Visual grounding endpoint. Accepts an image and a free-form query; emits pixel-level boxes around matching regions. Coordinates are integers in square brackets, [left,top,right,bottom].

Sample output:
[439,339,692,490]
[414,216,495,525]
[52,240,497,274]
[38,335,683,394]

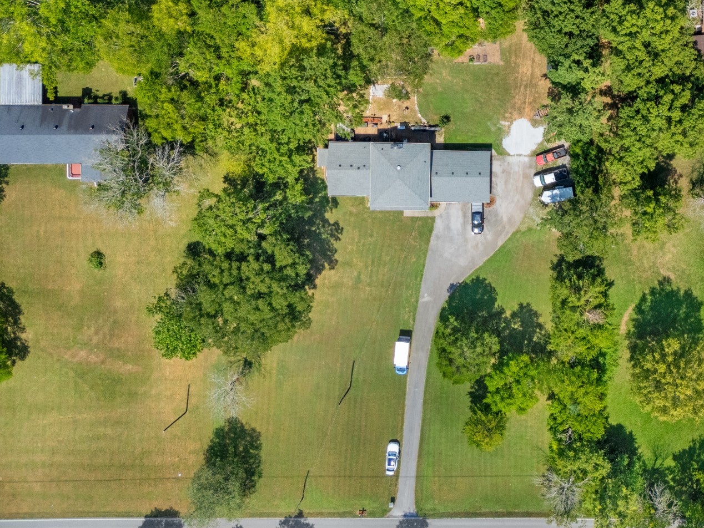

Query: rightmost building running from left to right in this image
[316,141,492,212]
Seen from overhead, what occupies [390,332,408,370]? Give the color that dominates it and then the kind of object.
white vehicle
